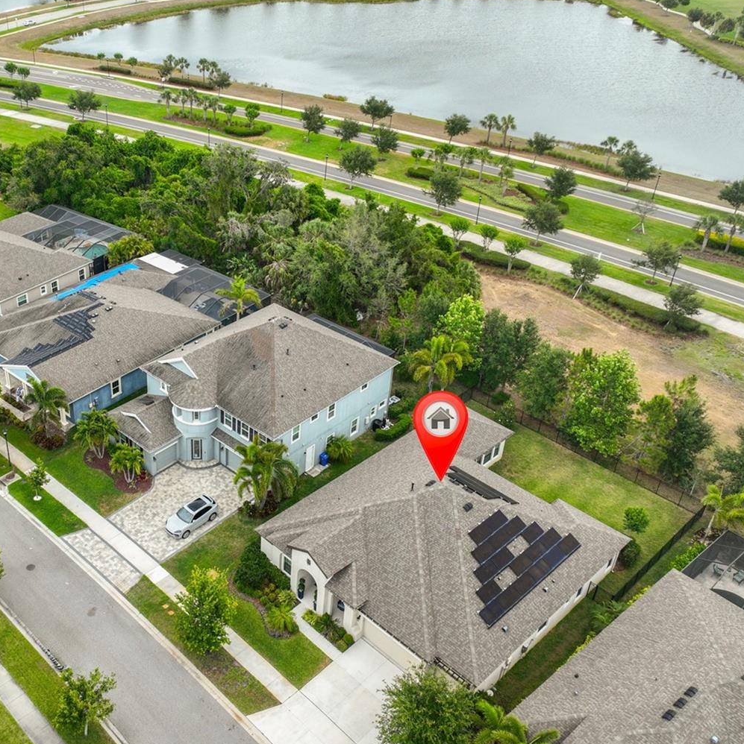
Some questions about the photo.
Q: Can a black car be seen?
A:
No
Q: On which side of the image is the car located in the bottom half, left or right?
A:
left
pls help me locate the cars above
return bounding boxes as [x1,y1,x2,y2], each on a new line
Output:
[164,497,223,543]
[23,20,35,26]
